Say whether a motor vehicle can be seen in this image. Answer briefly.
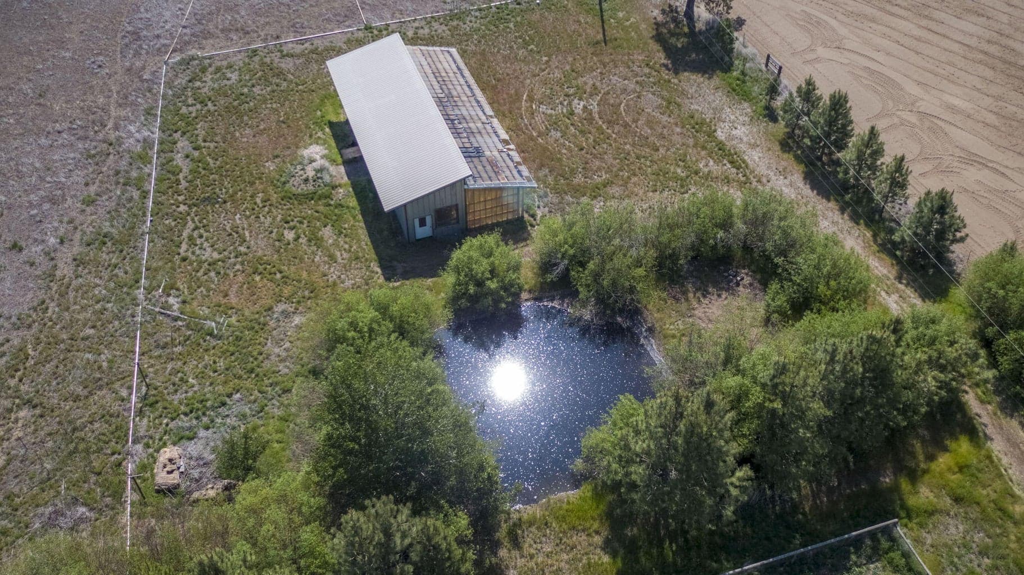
No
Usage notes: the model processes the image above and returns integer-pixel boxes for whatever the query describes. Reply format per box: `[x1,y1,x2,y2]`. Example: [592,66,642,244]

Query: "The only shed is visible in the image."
[328,32,537,243]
